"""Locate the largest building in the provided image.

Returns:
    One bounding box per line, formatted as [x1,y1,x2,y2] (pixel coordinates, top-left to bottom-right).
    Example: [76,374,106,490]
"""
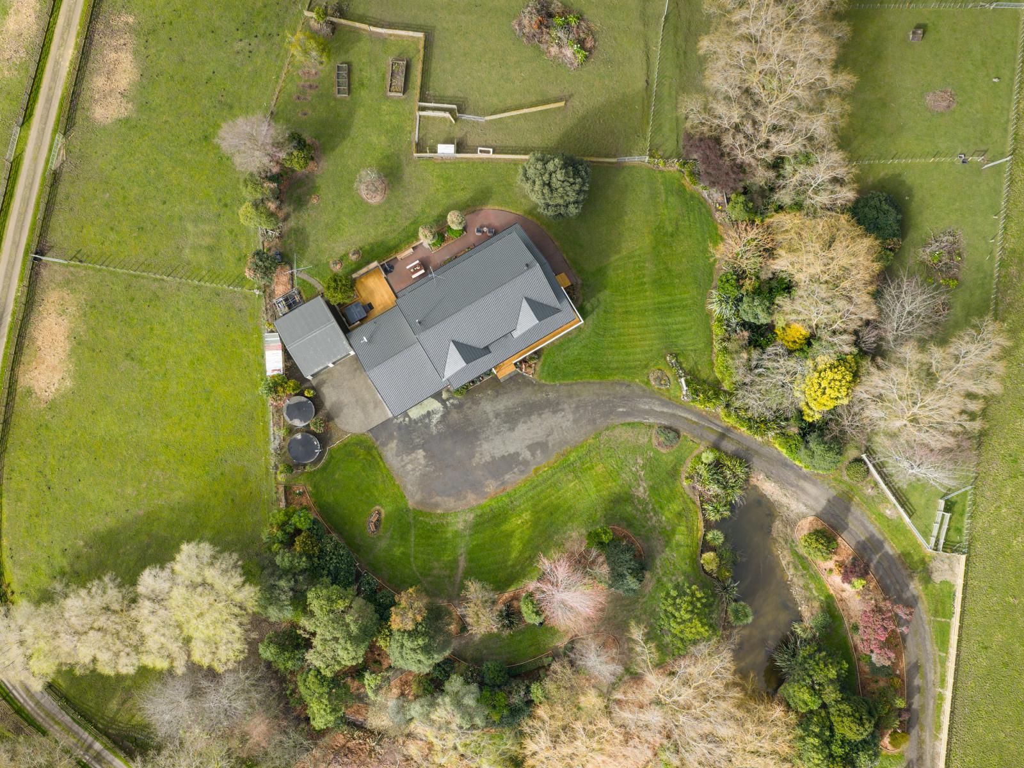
[346,221,583,418]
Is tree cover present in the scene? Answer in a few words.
Yes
